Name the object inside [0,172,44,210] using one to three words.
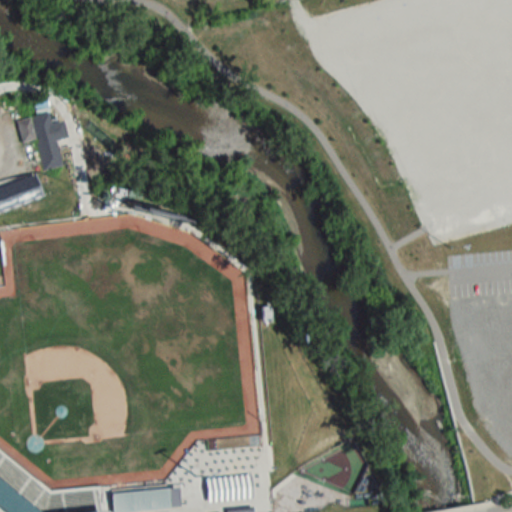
building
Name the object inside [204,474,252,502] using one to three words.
building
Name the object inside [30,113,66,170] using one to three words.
house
